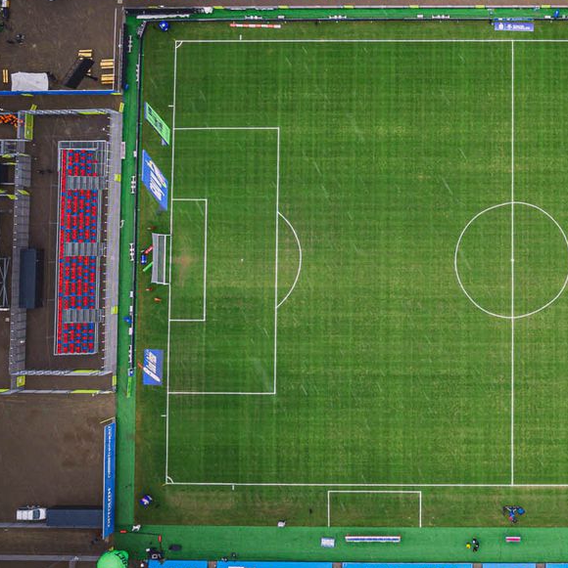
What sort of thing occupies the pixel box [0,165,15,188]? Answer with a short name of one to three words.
building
